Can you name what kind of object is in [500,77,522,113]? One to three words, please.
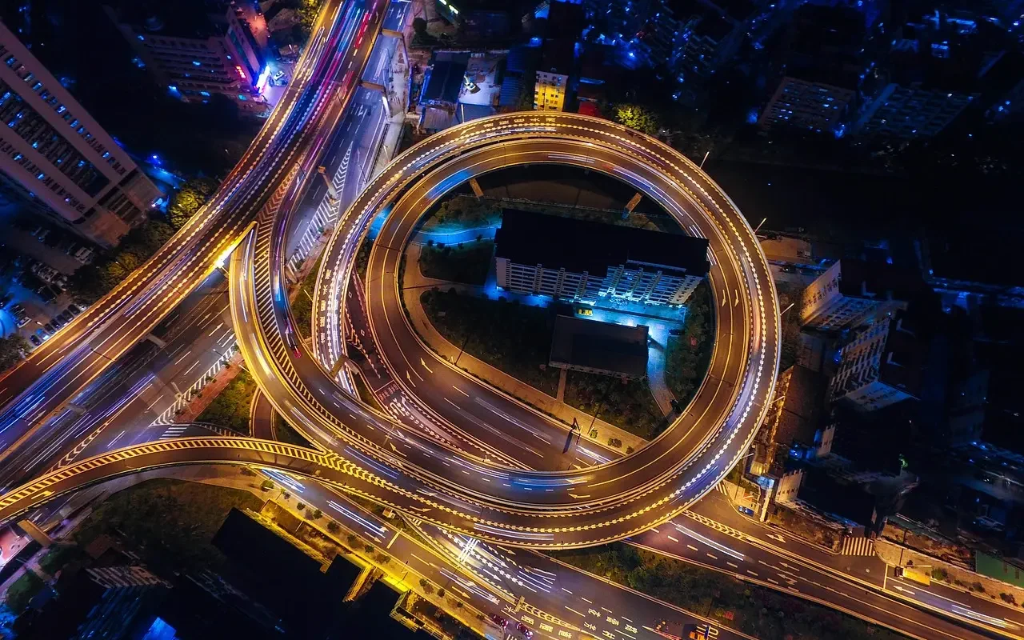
shed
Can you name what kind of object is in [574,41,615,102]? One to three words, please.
house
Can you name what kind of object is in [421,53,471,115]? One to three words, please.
shed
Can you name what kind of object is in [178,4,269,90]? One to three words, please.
building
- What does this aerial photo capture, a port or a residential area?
residential area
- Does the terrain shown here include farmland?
No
